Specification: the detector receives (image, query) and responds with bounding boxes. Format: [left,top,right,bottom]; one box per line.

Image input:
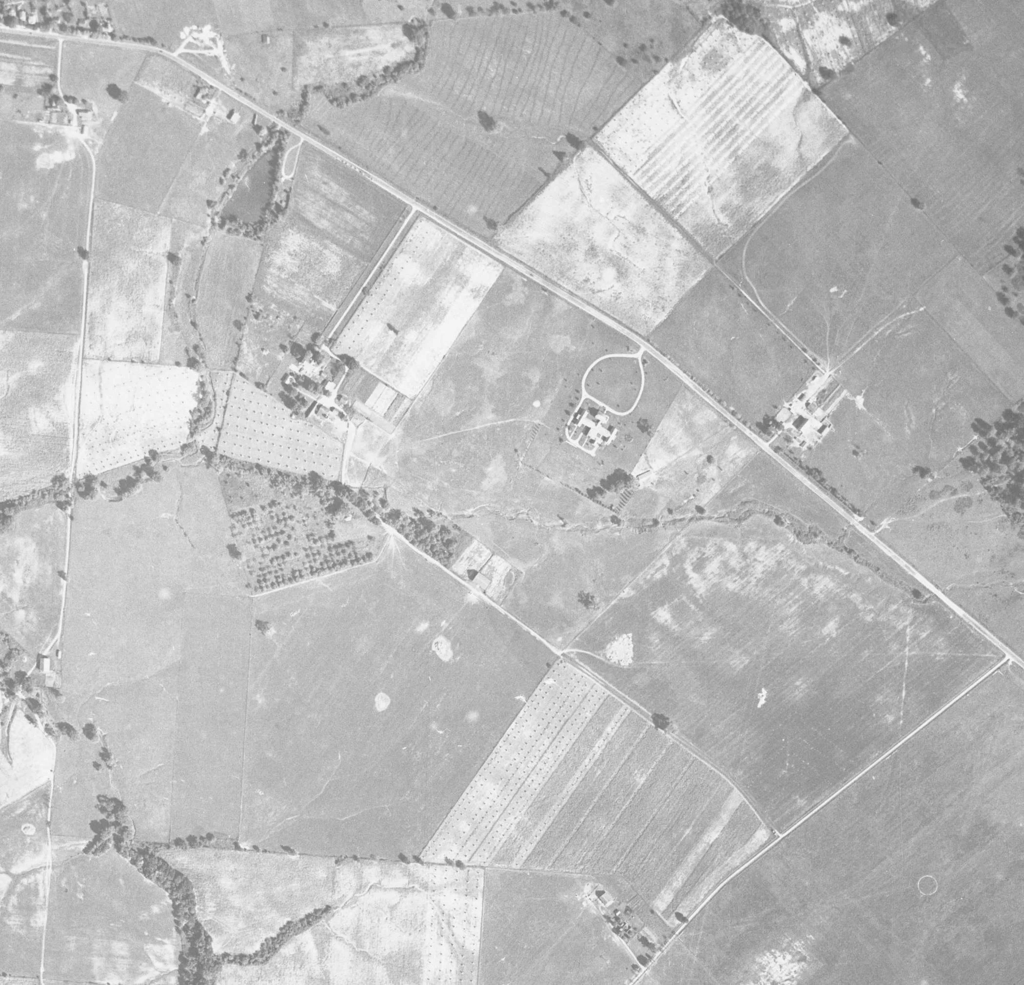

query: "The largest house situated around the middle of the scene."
[577,410,618,445]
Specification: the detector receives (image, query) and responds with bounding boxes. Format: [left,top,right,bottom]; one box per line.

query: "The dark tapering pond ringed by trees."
[221,149,275,224]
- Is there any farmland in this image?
Yes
